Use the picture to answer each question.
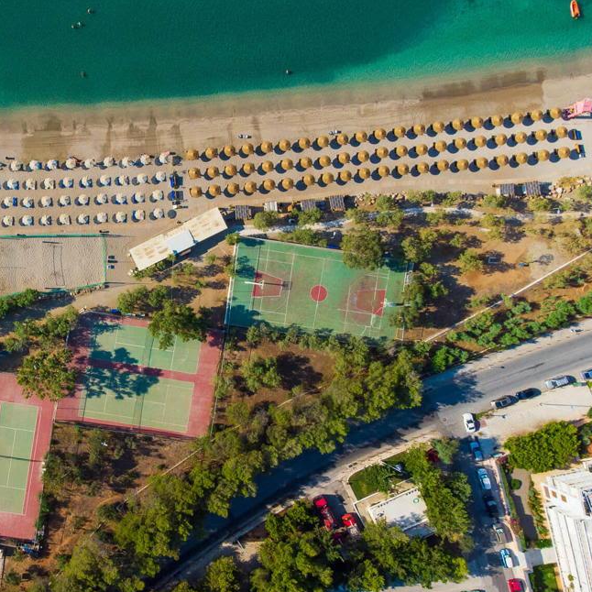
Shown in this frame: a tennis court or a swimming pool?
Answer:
tennis court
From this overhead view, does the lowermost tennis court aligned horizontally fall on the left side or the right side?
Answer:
left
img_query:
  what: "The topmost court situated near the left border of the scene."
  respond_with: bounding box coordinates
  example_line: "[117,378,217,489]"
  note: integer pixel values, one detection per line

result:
[0,236,106,299]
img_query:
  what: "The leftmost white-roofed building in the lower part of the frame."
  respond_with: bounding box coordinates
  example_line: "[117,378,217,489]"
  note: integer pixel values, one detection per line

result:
[364,486,433,537]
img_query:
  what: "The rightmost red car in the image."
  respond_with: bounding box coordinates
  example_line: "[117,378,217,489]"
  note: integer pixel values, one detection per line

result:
[509,577,521,592]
